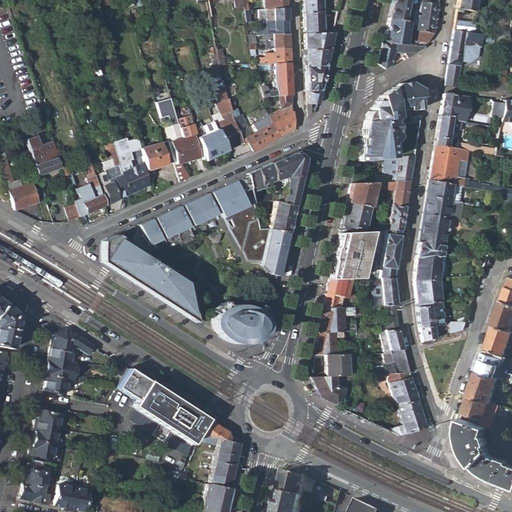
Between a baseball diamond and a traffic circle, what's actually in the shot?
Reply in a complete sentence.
The image shows a traffic circle.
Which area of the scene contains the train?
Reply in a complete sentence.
The train is located in the left region of the scene.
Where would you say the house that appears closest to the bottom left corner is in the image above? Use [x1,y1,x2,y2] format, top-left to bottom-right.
[17,472,44,505]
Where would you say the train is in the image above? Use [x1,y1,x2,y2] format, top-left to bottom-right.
[0,244,64,288]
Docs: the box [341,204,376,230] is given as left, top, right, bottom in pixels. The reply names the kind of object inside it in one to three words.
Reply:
house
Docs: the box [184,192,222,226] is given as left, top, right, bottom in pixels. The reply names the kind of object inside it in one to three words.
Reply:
building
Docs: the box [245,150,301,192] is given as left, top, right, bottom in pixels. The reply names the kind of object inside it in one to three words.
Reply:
building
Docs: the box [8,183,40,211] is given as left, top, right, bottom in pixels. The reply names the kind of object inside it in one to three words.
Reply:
house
